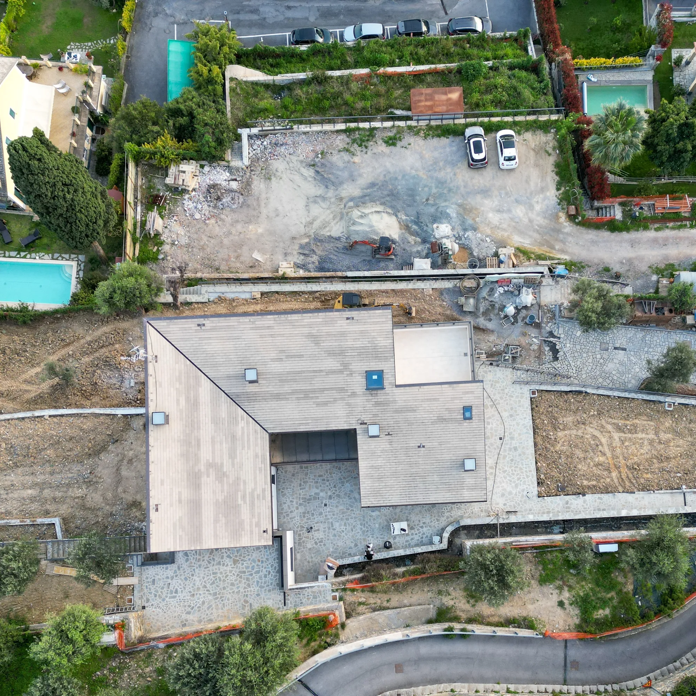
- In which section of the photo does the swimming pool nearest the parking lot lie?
top right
